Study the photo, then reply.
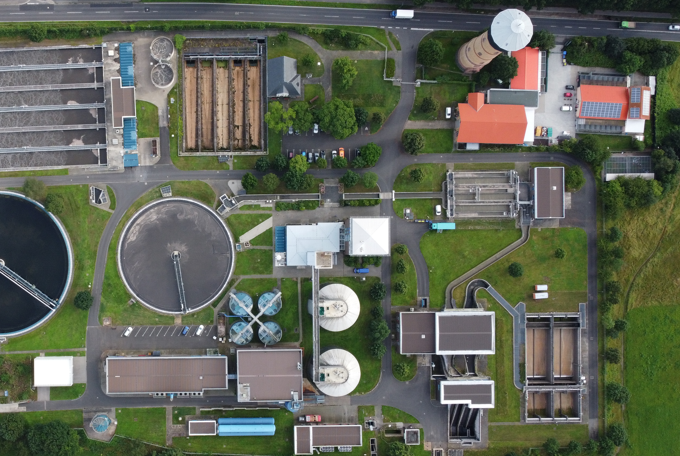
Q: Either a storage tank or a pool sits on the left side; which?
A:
storage tank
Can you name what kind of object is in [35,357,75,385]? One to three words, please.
building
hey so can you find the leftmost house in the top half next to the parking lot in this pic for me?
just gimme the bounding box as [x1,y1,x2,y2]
[268,56,300,98]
